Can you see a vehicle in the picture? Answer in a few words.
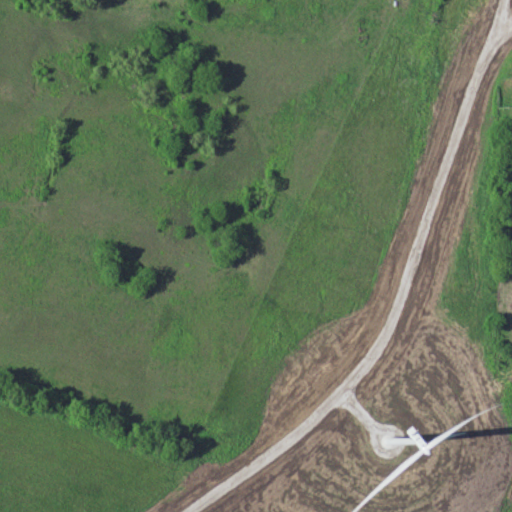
No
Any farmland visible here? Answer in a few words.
Yes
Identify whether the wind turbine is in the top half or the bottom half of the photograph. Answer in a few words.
bottom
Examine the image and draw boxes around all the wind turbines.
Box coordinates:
[352,406,502,512]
